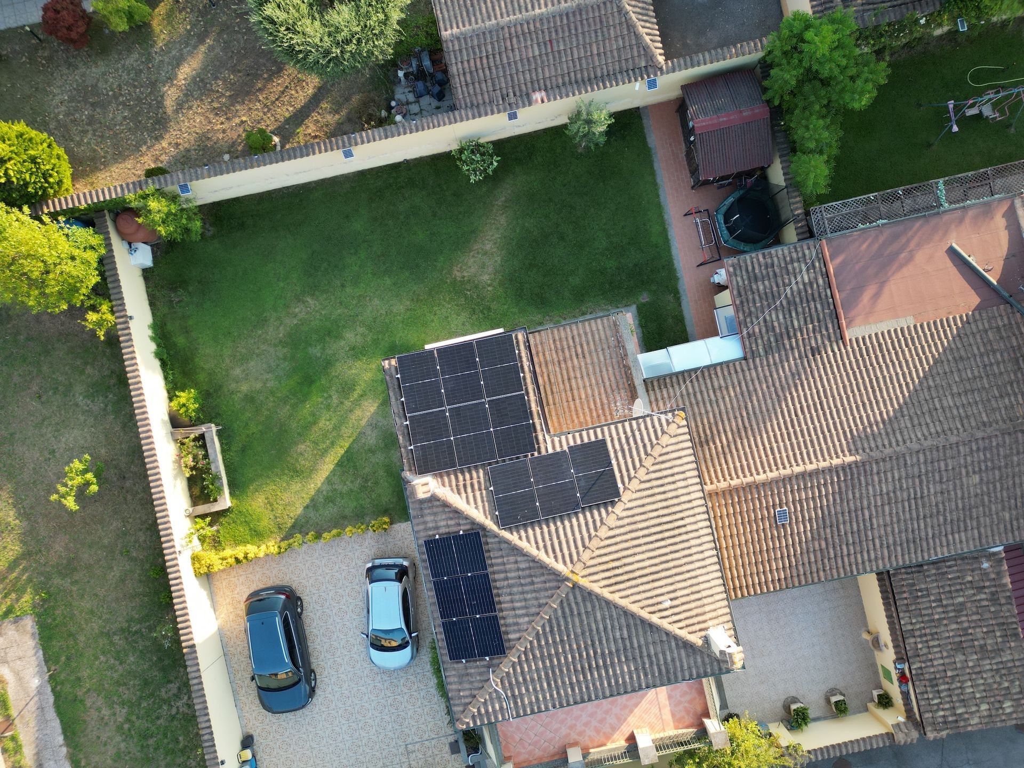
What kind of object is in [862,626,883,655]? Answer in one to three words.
fountain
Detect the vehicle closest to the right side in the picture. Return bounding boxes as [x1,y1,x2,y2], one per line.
[359,555,419,672]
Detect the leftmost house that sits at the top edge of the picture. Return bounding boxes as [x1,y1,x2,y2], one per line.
[433,0,666,111]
